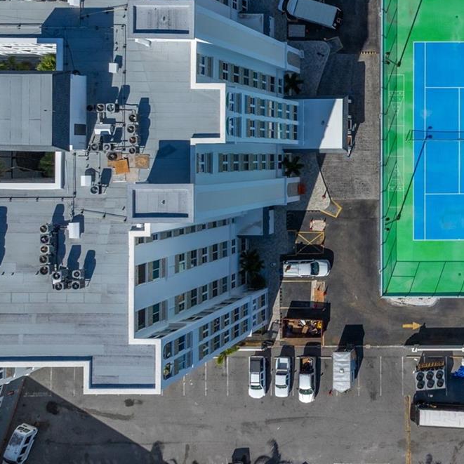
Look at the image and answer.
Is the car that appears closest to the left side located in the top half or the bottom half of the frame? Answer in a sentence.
The car that appears closest to the left side is in the bottom half of the image.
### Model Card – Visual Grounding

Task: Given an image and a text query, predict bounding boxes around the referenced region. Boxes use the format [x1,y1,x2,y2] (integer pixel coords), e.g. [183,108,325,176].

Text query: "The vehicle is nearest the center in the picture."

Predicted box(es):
[283,260,331,279]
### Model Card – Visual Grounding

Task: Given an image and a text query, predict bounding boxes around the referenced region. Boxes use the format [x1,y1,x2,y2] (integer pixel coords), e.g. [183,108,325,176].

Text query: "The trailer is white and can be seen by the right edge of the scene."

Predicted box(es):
[409,398,464,429]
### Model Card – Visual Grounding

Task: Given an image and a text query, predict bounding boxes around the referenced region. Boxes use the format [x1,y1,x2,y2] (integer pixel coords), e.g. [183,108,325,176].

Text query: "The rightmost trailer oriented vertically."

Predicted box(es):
[333,347,355,393]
